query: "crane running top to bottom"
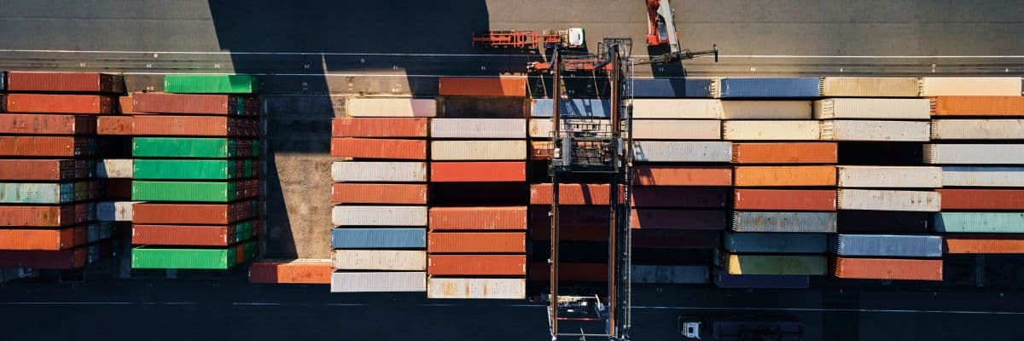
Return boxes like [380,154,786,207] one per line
[525,38,636,341]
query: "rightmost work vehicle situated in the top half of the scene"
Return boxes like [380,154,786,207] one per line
[626,0,720,71]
